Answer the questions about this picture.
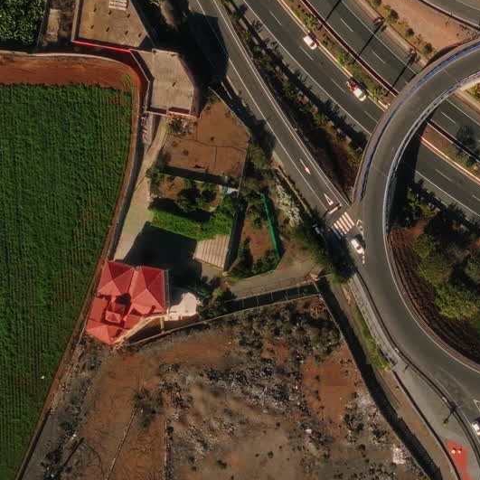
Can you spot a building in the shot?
Yes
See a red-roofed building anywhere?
Yes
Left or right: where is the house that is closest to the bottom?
left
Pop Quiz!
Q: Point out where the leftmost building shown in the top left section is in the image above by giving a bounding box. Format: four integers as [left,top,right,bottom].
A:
[71,0,160,53]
